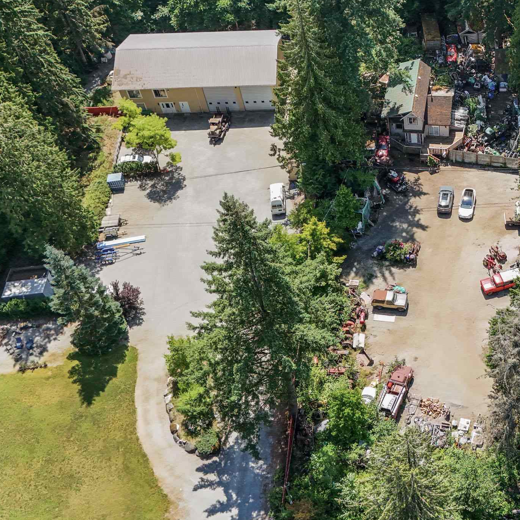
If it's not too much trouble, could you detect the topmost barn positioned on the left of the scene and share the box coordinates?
[114,29,292,118]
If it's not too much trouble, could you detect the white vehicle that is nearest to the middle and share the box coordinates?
[267,181,287,216]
